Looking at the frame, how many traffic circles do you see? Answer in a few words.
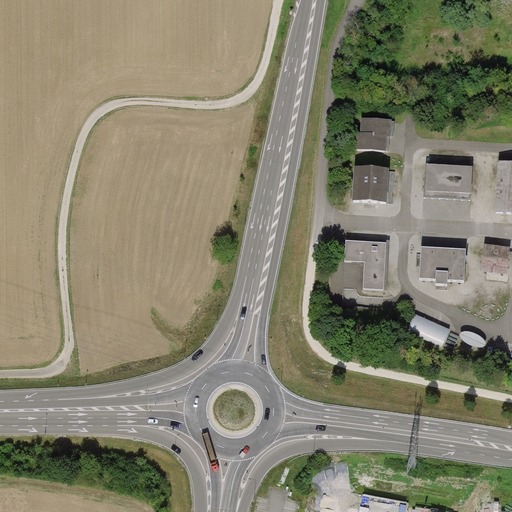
one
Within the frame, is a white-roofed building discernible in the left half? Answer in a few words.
No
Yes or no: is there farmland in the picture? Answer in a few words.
Yes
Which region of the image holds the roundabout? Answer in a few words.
bottom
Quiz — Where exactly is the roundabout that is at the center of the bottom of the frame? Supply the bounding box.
[184,359,286,460]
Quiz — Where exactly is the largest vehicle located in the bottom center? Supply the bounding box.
[202,432,218,471]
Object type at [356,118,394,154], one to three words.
house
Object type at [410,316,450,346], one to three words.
building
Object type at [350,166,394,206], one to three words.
house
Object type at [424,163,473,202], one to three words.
building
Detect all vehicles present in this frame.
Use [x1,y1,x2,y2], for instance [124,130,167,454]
[261,354,266,364]
[241,308,246,319]
[170,422,180,428]
[194,398,198,408]
[264,408,270,420]
[240,446,250,457]
[170,444,182,454]
[192,350,203,360]
[316,426,326,431]
[148,419,158,424]
[202,432,218,471]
